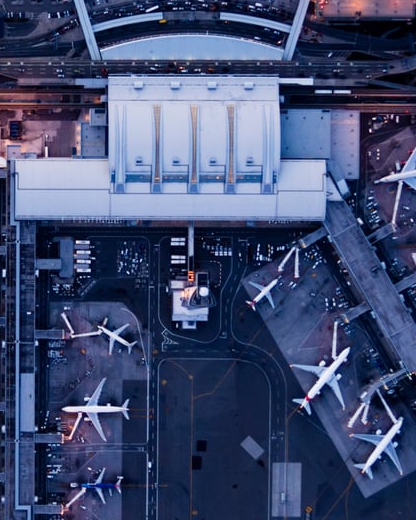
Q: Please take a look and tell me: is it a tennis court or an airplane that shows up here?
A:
airplane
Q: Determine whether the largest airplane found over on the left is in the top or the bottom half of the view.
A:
bottom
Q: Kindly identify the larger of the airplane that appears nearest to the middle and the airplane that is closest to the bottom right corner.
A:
the airplane that is closest to the bottom right corner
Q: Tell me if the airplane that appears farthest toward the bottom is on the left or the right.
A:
left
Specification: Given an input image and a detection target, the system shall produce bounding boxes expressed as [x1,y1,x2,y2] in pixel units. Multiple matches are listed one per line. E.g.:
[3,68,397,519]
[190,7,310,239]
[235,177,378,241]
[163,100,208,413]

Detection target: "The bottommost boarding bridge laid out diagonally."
[65,487,87,510]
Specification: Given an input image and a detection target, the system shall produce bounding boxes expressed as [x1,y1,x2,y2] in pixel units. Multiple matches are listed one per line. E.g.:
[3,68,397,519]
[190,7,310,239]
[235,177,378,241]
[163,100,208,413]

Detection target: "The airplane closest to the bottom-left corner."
[81,467,121,505]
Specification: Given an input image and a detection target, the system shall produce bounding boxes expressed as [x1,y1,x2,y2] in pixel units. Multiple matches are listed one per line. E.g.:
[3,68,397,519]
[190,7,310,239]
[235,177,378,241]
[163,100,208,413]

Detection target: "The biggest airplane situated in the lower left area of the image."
[62,377,129,442]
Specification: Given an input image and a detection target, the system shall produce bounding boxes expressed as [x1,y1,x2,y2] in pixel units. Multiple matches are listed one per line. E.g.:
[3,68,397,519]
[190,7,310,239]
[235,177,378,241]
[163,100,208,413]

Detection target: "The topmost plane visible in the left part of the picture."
[98,325,136,357]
